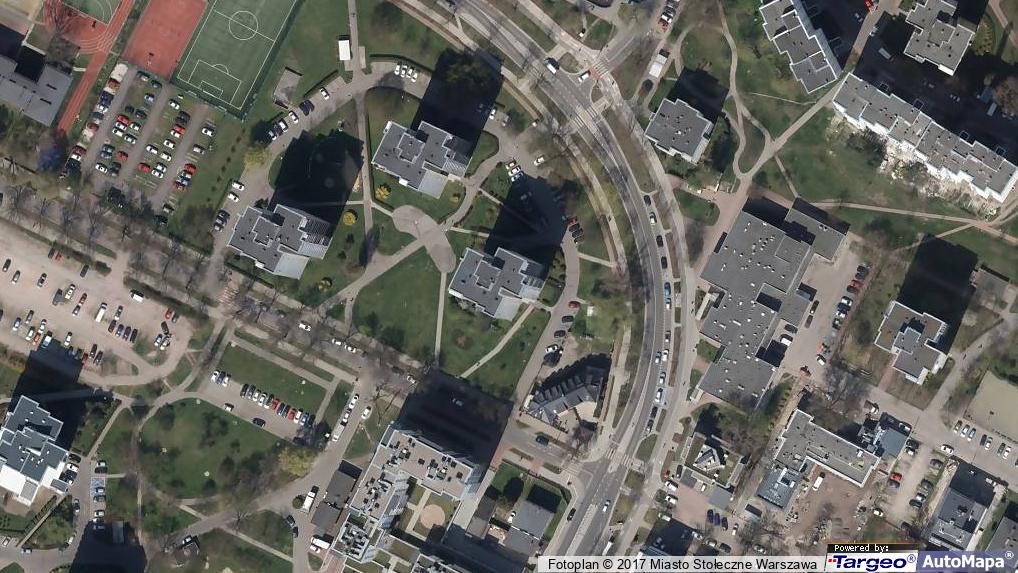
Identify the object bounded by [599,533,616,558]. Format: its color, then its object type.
white vehicle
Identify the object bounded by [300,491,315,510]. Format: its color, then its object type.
white vehicle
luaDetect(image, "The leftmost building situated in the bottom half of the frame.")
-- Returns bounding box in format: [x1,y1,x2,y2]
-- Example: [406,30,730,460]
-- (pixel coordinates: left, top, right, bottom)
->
[0,395,92,504]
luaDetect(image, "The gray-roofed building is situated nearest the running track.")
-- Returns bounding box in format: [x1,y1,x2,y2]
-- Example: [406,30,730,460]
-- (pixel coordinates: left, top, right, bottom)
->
[0,56,82,129]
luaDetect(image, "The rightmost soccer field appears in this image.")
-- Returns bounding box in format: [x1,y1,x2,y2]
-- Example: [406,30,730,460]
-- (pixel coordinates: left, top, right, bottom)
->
[171,0,304,123]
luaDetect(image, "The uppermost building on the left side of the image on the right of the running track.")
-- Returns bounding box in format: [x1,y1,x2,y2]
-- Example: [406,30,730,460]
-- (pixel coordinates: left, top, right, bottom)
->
[273,68,304,104]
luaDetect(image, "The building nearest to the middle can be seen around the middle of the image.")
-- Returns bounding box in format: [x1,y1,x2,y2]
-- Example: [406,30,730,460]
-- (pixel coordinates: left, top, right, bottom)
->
[448,248,548,319]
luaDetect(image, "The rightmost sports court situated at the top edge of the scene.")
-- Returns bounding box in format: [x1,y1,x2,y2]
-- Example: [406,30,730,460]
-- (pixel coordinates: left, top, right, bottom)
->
[120,0,211,83]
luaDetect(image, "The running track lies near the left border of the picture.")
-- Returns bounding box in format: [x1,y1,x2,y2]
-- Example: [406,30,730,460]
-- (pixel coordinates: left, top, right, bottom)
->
[43,0,135,140]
